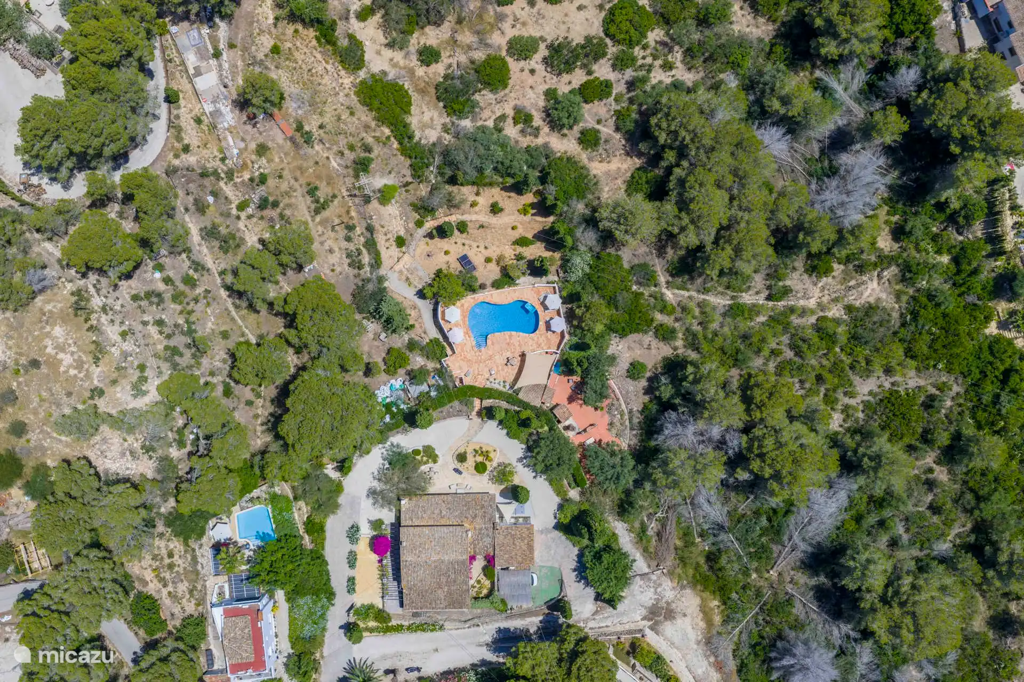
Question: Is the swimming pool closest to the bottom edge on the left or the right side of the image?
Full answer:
You can find the swimming pool closest to the bottom edge on the left side of the picture.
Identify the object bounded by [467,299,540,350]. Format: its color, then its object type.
blue swimming pool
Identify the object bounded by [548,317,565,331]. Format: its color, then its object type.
white umbrella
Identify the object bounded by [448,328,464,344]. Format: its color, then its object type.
white umbrella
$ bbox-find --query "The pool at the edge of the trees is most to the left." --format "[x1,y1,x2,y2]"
[237,506,276,543]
